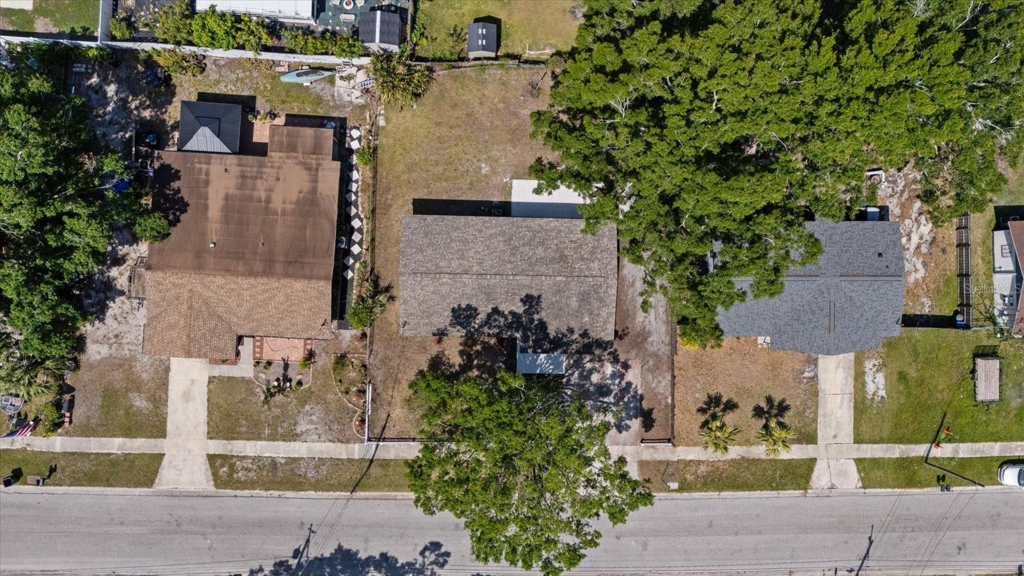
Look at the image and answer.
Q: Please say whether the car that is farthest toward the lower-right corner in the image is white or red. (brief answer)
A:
white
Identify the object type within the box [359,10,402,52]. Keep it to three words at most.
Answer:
shed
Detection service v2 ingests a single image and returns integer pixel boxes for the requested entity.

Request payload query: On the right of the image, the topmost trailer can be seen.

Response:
[966,353,1009,416]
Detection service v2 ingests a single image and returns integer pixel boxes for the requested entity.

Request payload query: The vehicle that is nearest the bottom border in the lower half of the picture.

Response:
[1000,460,1024,487]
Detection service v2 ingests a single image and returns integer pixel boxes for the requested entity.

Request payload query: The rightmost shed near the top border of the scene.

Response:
[468,23,497,60]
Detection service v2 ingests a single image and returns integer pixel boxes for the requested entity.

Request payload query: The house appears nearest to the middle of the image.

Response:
[399,215,619,355]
